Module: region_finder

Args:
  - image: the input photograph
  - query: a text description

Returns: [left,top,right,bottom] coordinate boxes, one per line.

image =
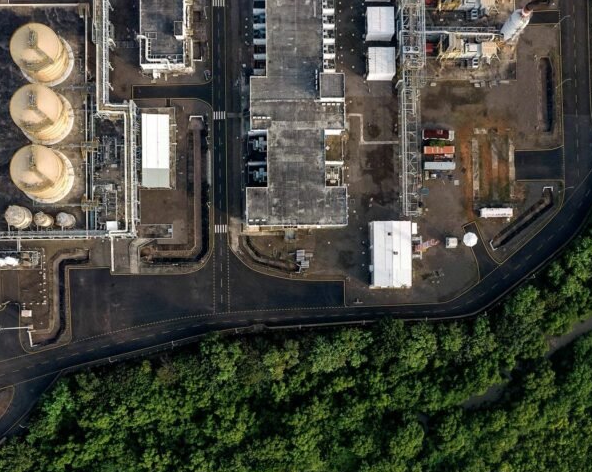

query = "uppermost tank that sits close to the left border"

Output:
[11,22,75,86]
